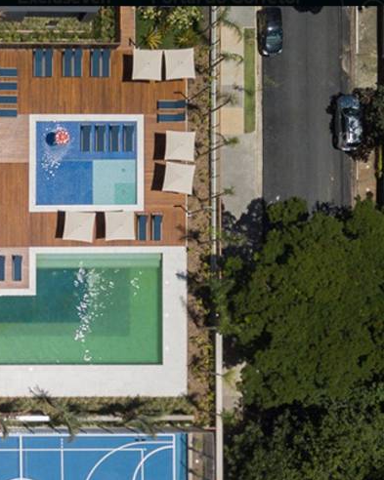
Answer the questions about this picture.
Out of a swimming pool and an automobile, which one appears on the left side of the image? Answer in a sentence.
It is a swimming pool that can be seen on the left side of the image.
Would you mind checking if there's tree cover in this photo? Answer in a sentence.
Yes, there's tree cover in this view.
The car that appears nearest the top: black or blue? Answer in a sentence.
The car that appears nearest the top looks black in the image.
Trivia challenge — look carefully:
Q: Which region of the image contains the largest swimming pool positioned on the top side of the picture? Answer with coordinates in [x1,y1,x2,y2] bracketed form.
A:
[30,114,144,210]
